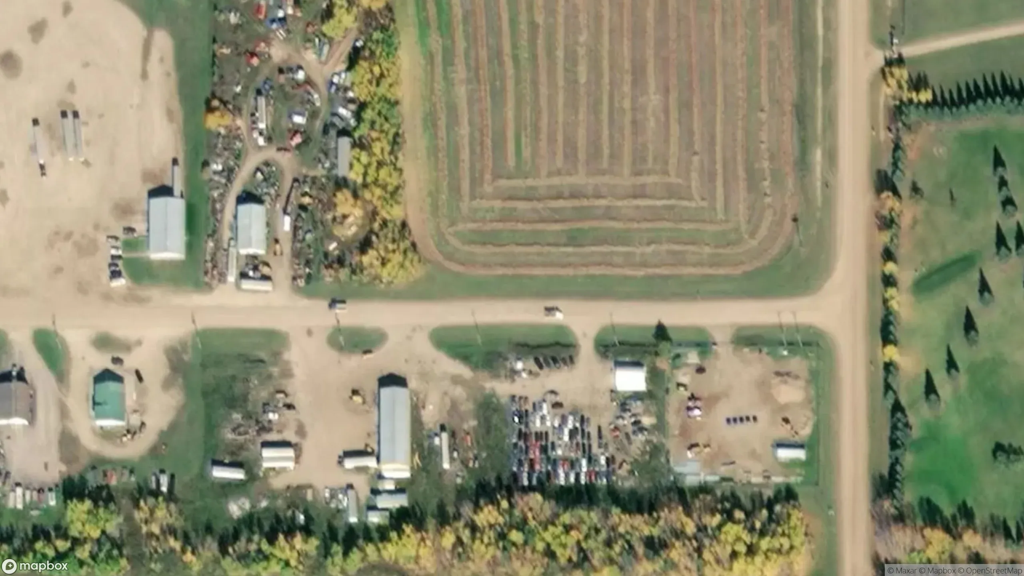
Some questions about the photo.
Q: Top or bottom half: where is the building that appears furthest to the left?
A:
bottom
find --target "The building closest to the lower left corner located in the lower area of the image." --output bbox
[0,378,36,421]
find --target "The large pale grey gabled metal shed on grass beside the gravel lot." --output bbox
[148,194,187,260]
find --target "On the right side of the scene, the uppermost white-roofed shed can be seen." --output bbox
[615,364,647,396]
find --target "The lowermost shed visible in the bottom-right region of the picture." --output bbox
[776,448,806,463]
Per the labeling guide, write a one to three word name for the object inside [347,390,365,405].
work vehicle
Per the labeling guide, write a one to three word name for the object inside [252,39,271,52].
vehicle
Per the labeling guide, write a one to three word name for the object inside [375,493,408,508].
building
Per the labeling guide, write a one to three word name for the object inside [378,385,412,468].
shed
